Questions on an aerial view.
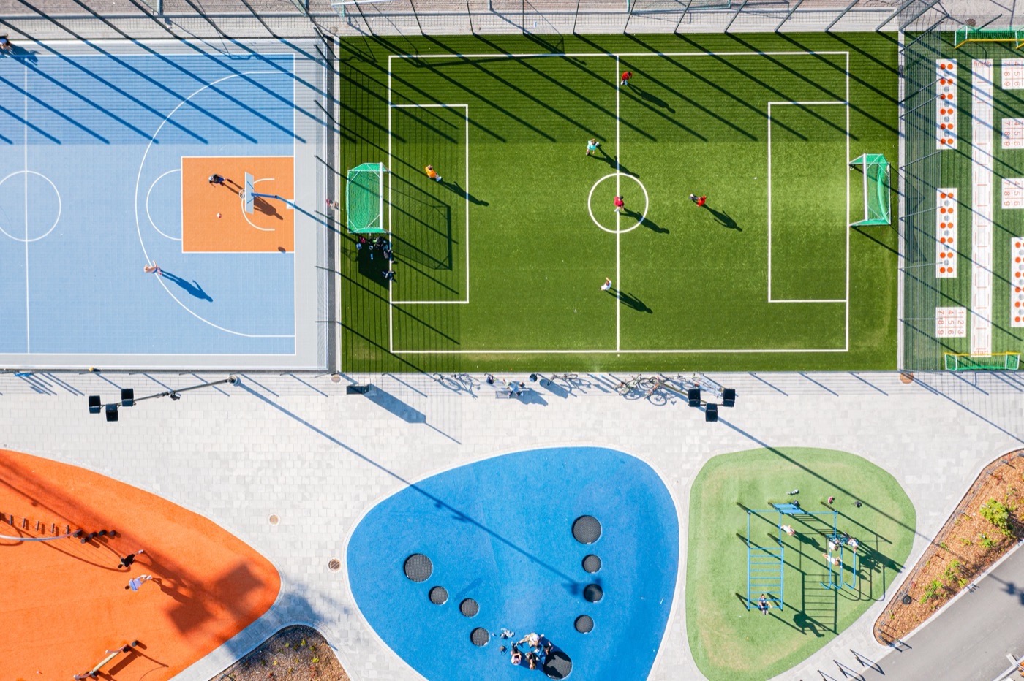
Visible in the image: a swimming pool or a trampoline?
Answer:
trampoline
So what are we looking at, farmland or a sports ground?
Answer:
sports ground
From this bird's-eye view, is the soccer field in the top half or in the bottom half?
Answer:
top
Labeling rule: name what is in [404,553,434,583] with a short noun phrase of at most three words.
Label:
trampoline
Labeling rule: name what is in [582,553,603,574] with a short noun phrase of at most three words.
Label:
trampoline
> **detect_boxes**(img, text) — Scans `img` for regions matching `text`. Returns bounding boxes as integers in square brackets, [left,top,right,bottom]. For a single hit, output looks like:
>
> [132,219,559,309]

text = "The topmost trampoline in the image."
[571,515,602,545]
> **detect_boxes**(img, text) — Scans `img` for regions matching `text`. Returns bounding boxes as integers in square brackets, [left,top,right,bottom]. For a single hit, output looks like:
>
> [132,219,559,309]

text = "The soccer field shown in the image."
[340,31,899,372]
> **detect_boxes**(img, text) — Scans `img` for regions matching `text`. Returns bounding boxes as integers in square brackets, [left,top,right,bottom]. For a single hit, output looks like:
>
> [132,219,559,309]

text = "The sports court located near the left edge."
[0,38,328,368]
